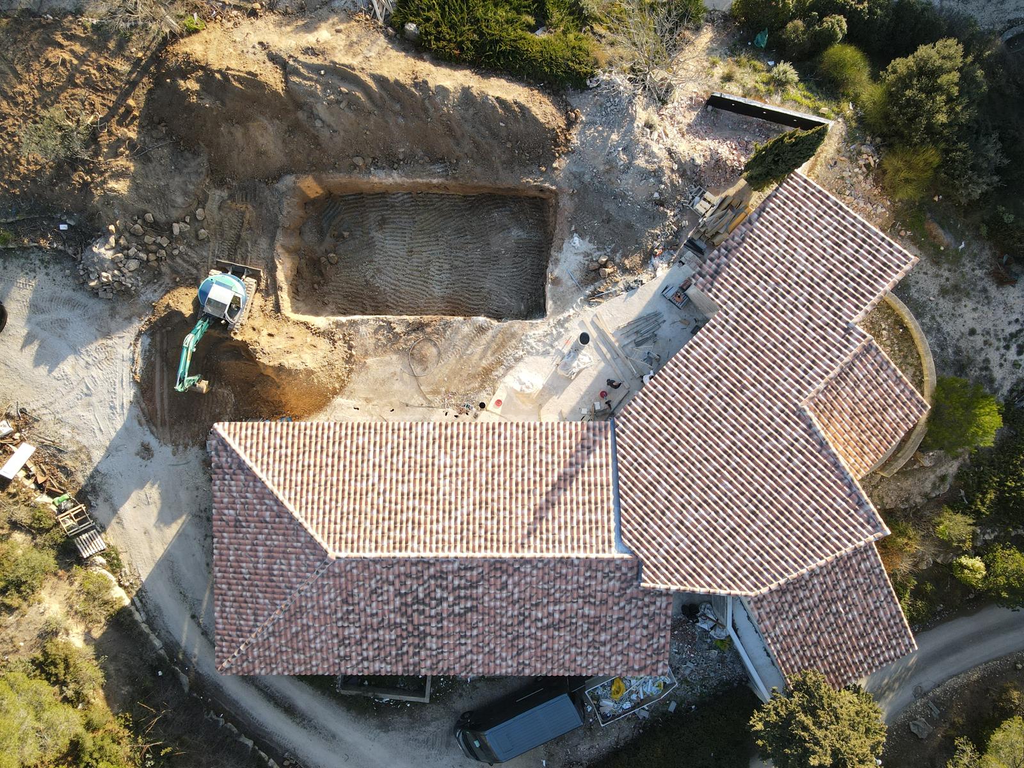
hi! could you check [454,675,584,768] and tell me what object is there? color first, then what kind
blue van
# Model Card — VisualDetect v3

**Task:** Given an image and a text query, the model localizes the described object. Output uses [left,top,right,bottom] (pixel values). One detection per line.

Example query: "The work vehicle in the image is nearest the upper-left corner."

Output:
[175,252,265,394]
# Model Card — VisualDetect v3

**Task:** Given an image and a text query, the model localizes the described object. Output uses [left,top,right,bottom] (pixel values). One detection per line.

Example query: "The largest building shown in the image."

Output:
[211,172,931,709]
